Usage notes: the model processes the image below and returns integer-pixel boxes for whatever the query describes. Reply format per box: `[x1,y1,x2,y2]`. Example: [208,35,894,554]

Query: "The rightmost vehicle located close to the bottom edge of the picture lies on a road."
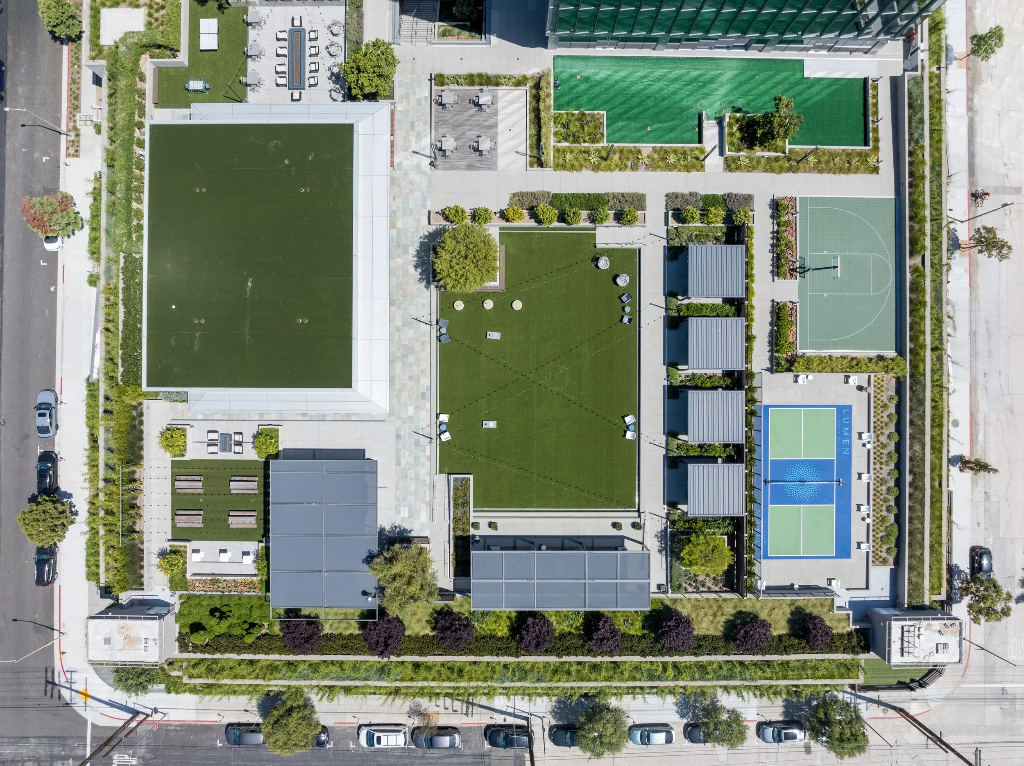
[761,721,810,749]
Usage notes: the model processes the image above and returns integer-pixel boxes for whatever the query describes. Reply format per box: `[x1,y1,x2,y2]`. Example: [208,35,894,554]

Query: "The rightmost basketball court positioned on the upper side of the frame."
[799,196,896,353]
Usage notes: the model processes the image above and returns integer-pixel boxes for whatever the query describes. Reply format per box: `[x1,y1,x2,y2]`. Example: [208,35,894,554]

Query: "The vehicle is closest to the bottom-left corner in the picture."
[28,548,57,592]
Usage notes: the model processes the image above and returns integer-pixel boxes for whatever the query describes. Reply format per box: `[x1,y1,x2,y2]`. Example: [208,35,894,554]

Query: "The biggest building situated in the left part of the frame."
[144,103,391,412]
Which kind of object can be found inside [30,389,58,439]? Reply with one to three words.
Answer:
car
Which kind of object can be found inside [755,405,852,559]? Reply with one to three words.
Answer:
sports court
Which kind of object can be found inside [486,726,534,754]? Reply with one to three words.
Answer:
car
